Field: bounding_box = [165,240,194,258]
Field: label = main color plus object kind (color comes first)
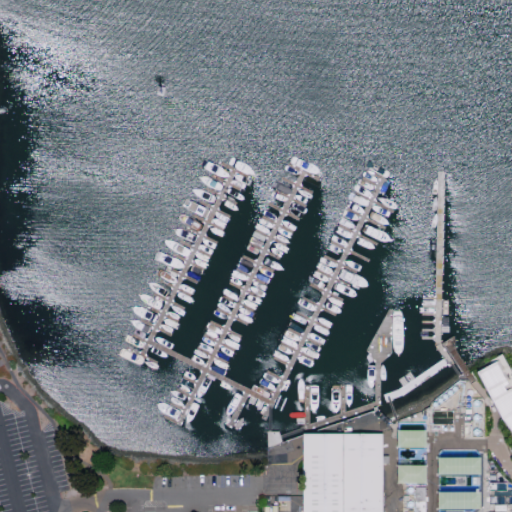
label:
white boat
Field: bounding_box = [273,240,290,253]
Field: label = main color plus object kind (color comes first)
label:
white boat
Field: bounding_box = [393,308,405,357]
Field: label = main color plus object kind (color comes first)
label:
white ship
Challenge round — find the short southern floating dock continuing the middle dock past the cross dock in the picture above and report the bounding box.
[158,371,203,423]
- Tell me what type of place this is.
port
